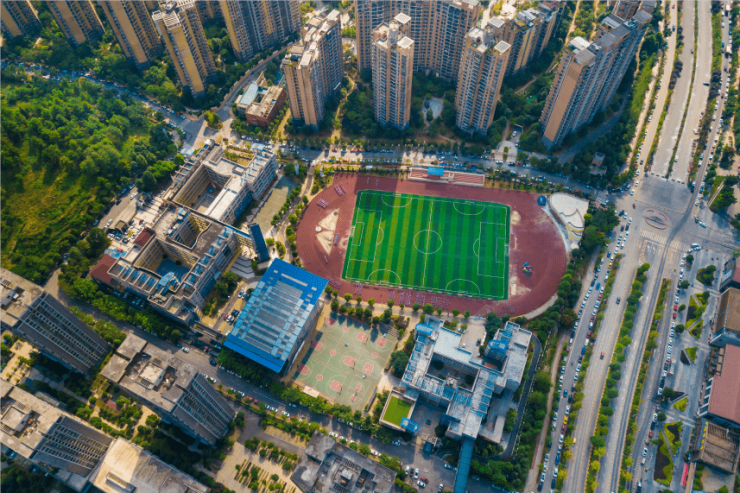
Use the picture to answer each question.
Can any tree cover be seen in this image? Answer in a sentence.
Yes, tree cover shows up in the scene.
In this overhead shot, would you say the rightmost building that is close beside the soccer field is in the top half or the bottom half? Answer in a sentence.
The rightmost building that is close beside the soccer field is in the top half of the image.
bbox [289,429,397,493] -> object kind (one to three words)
building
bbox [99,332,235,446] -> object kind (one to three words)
building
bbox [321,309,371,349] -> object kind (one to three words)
basketball court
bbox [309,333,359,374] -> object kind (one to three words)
basketball court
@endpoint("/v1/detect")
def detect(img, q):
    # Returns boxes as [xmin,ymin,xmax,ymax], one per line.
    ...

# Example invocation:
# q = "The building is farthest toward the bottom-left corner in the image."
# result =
[0,374,117,481]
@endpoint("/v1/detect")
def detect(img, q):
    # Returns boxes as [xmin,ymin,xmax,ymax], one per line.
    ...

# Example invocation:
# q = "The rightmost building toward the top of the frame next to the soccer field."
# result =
[536,8,653,147]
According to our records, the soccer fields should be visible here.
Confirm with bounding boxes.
[342,189,512,299]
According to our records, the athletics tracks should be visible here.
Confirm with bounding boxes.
[296,173,567,318]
